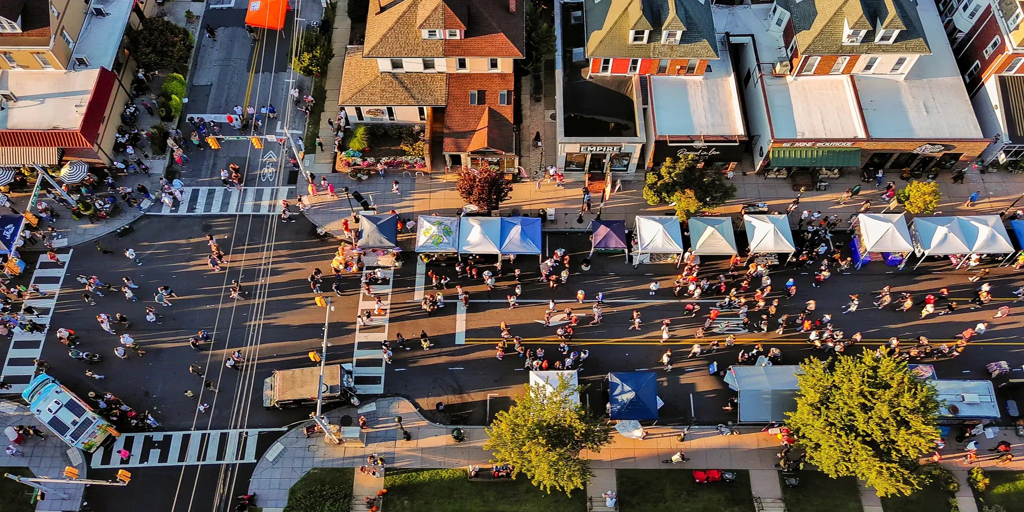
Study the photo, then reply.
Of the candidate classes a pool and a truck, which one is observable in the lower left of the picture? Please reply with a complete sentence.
The one visible in the lower left of the picture is a truck.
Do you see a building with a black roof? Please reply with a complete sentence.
Yes, there's a building with a black roof down there.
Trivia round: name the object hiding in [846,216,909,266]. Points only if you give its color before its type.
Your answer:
white tent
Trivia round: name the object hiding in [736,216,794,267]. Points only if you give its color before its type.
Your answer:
white tent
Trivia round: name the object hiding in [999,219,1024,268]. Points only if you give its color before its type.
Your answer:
blue tent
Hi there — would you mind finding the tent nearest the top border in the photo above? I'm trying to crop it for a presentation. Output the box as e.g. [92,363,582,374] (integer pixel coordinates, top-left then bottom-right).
[247,0,297,48]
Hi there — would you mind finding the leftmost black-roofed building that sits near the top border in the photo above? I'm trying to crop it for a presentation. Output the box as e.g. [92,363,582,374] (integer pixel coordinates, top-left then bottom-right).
[553,0,646,181]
